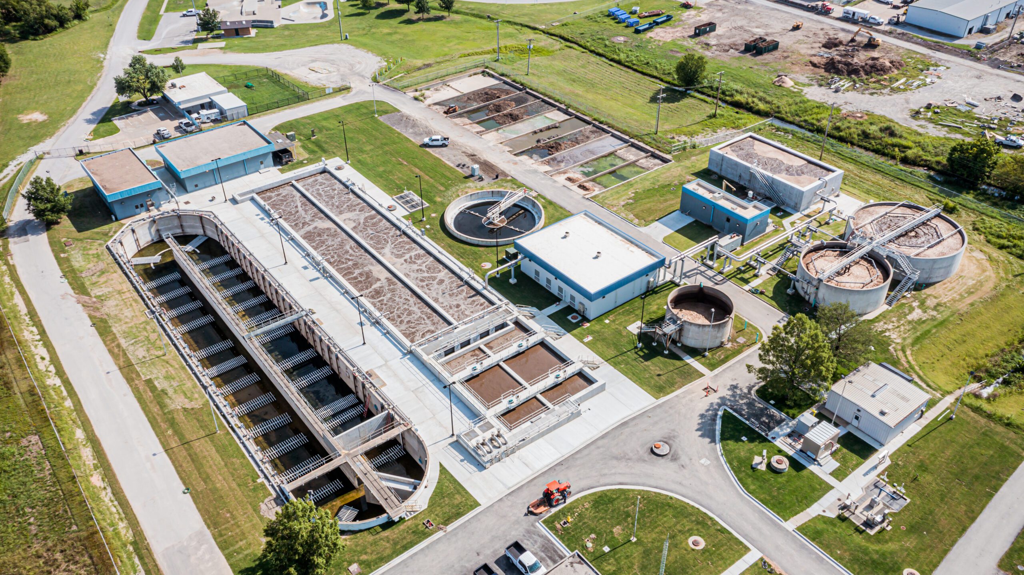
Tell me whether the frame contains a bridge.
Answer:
Yes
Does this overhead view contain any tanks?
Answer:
Yes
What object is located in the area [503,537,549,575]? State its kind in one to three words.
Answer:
truck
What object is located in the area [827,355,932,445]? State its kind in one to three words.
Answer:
building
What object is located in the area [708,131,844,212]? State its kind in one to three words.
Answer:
storage tank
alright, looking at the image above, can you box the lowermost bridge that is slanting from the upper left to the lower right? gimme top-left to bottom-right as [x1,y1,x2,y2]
[348,455,406,519]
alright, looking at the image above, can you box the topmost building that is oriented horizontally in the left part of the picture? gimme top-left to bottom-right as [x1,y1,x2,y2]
[219,20,258,35]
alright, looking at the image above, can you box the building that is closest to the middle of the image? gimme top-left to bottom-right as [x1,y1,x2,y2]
[514,210,665,319]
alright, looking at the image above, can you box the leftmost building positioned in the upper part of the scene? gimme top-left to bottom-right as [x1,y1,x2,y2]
[81,147,165,219]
